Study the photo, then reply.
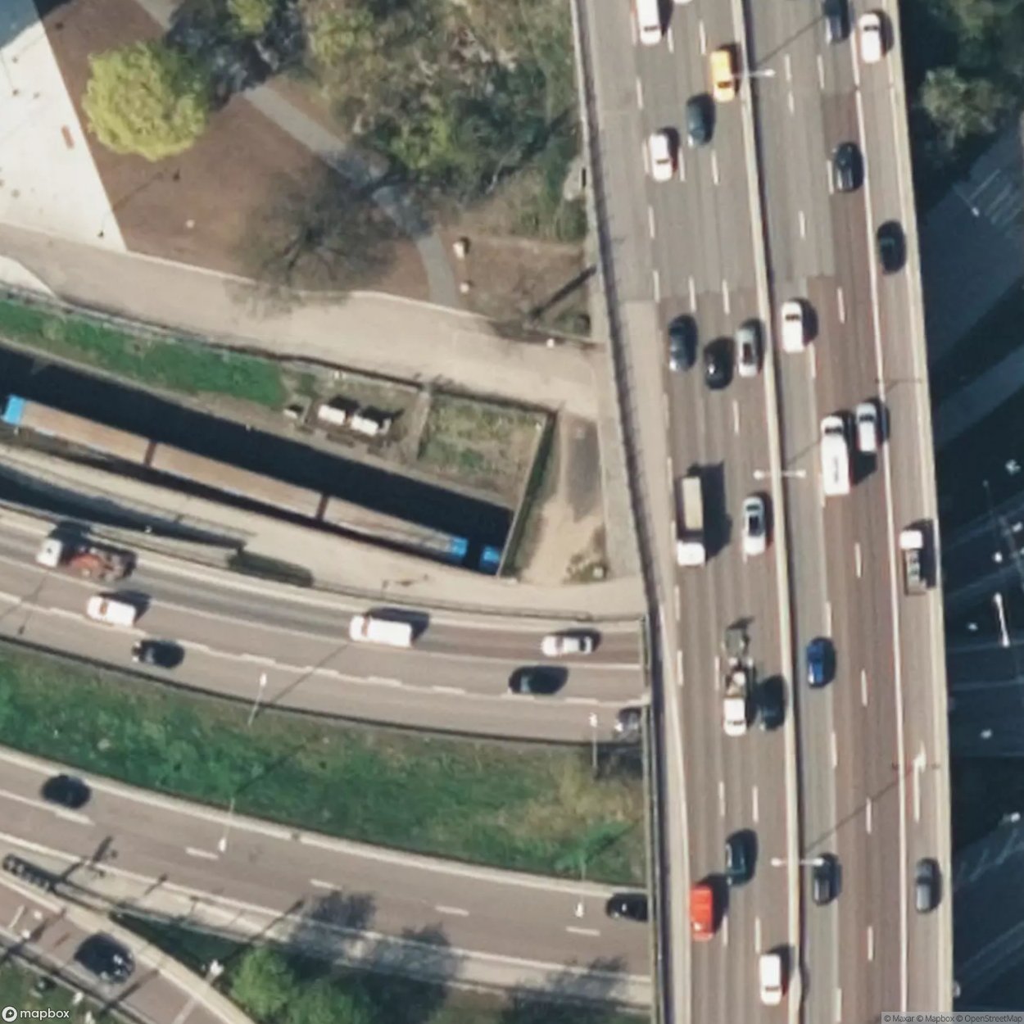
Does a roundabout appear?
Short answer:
No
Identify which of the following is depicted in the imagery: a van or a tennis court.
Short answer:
van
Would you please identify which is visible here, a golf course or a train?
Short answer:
train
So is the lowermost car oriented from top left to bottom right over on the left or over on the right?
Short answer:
left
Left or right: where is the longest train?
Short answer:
left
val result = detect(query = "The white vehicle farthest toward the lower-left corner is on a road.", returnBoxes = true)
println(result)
[86,595,139,626]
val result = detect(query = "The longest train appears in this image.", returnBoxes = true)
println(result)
[1,398,470,563]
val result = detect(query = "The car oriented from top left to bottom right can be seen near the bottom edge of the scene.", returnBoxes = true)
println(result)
[77,938,130,980]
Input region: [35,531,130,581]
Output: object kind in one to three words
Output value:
truck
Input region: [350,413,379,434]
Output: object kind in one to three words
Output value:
shed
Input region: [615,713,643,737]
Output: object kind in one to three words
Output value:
car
